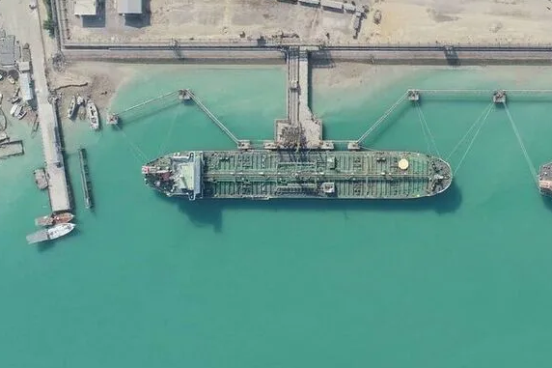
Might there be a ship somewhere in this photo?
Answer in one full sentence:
Yes, I can see a ship in this picture.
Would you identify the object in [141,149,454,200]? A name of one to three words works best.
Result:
ship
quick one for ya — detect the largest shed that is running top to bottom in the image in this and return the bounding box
[20,72,37,100]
